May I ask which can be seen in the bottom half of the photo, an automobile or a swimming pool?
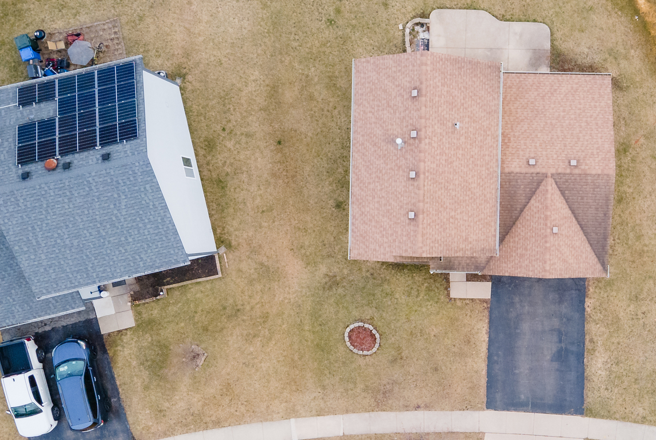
automobile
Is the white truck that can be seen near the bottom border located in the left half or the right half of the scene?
left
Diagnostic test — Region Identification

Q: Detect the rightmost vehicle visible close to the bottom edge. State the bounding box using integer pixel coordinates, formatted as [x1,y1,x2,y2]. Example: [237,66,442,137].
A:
[54,336,112,432]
